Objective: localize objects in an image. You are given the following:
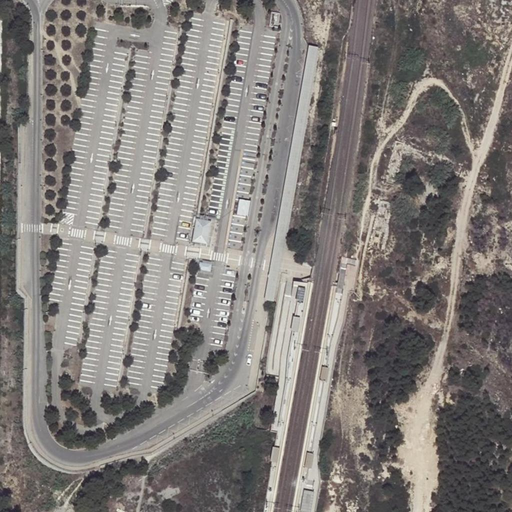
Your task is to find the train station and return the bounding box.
[256,242,358,512]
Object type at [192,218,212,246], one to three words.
building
